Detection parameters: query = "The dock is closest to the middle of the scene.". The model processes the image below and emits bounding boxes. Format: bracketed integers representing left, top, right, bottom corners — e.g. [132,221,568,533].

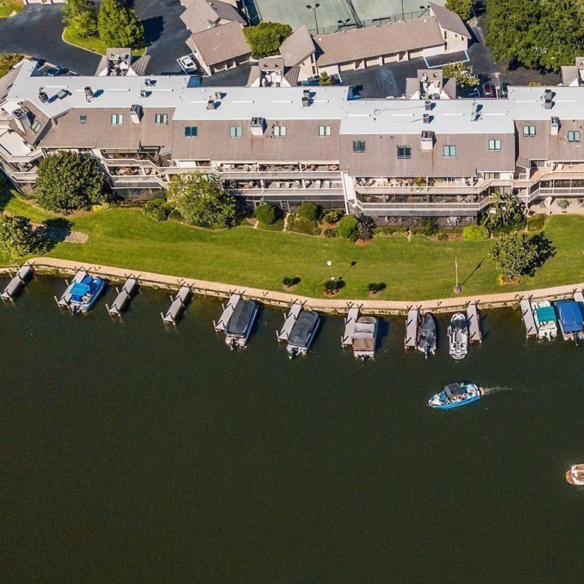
[275,301,305,343]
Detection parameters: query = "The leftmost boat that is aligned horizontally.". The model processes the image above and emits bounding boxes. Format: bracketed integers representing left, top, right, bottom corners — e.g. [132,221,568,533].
[427,384,492,410]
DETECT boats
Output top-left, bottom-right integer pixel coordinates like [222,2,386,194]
[226,296,259,350]
[563,462,584,485]
[353,314,377,363]
[427,384,492,410]
[533,297,556,342]
[447,310,468,363]
[554,296,583,345]
[418,310,437,355]
[287,309,322,360]
[70,274,104,314]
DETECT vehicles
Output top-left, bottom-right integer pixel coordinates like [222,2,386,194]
[178,53,195,69]
[482,76,494,94]
[499,73,513,95]
[41,61,67,73]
